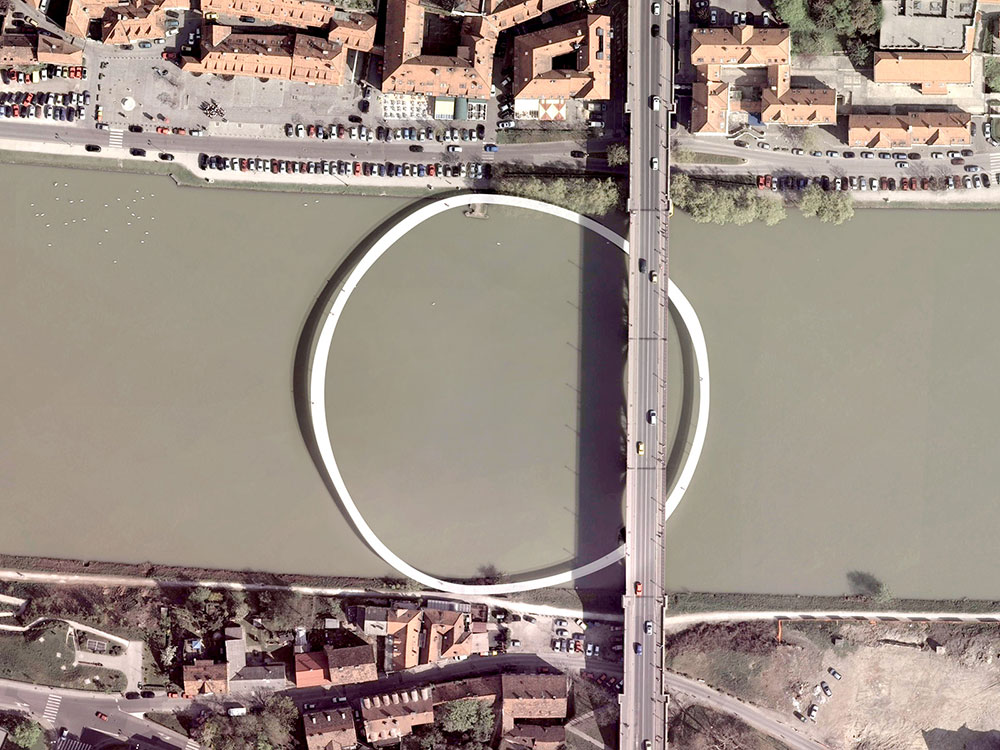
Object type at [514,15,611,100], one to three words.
building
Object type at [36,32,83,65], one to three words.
house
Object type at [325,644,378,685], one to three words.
house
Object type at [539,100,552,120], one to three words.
umbrella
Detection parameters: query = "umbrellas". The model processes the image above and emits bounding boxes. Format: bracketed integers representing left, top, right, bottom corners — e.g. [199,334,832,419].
[553,100,565,120]
[539,100,552,120]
